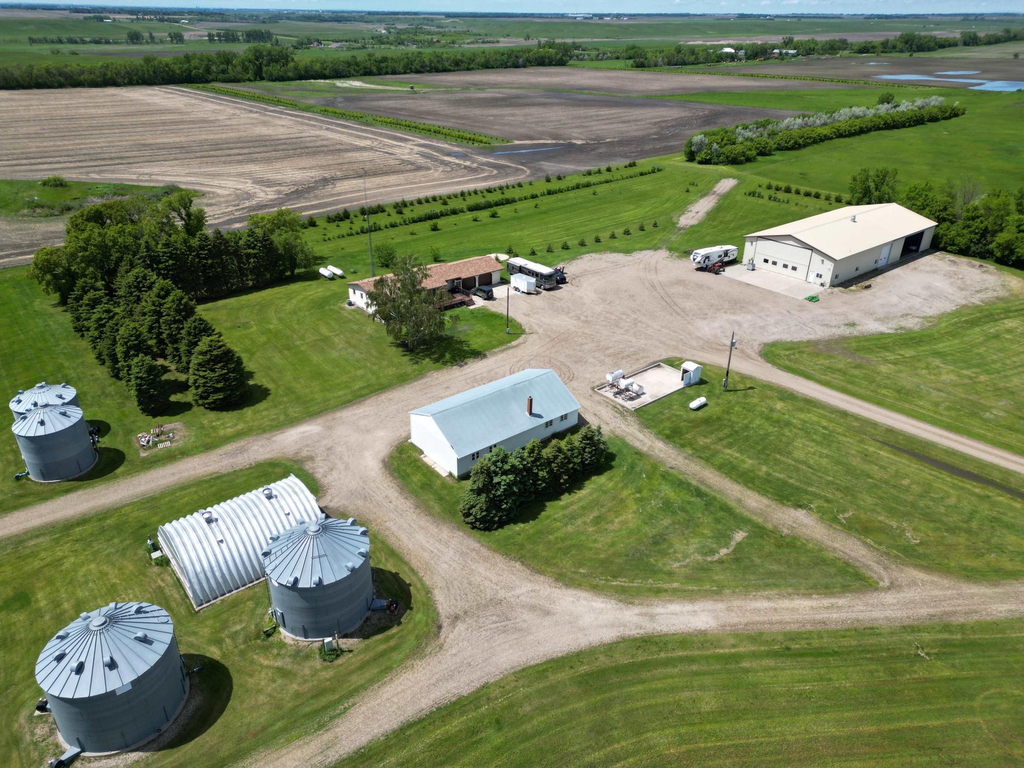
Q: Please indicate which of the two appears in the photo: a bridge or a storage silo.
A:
storage silo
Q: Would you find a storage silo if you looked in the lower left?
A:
Yes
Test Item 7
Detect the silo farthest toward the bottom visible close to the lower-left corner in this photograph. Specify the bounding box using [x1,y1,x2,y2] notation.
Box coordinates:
[34,600,194,768]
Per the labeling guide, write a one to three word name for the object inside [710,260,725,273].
vehicle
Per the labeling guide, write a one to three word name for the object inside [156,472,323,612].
shed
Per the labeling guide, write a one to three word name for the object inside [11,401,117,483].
silo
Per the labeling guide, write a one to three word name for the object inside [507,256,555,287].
camper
